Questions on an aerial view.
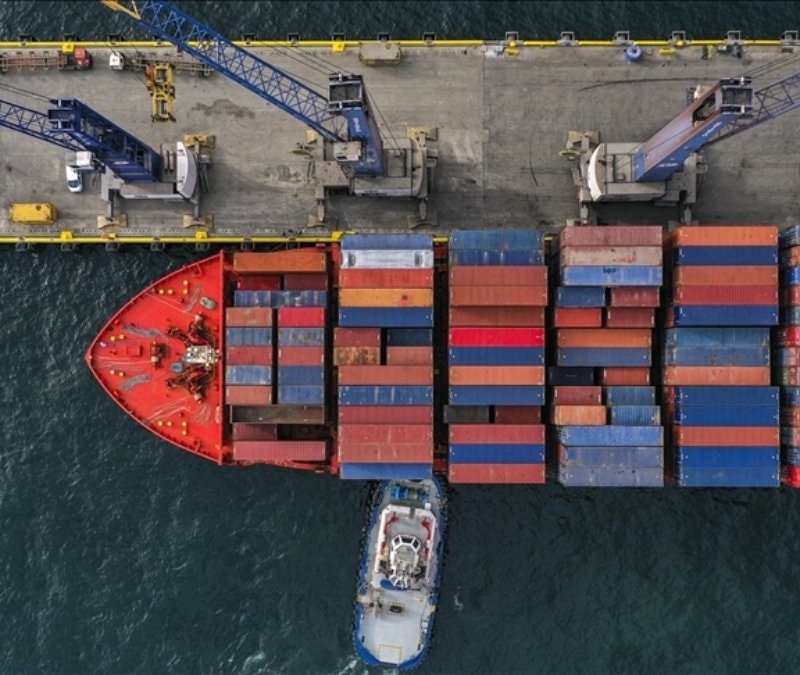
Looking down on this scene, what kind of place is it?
port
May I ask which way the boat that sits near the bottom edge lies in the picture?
from top to bottom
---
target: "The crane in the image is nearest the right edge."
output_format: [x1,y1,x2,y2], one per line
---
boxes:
[562,59,800,228]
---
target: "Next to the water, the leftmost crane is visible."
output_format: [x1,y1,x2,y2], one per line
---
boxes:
[0,80,218,233]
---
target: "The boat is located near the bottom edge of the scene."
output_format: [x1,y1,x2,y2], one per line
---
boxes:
[353,473,447,670]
